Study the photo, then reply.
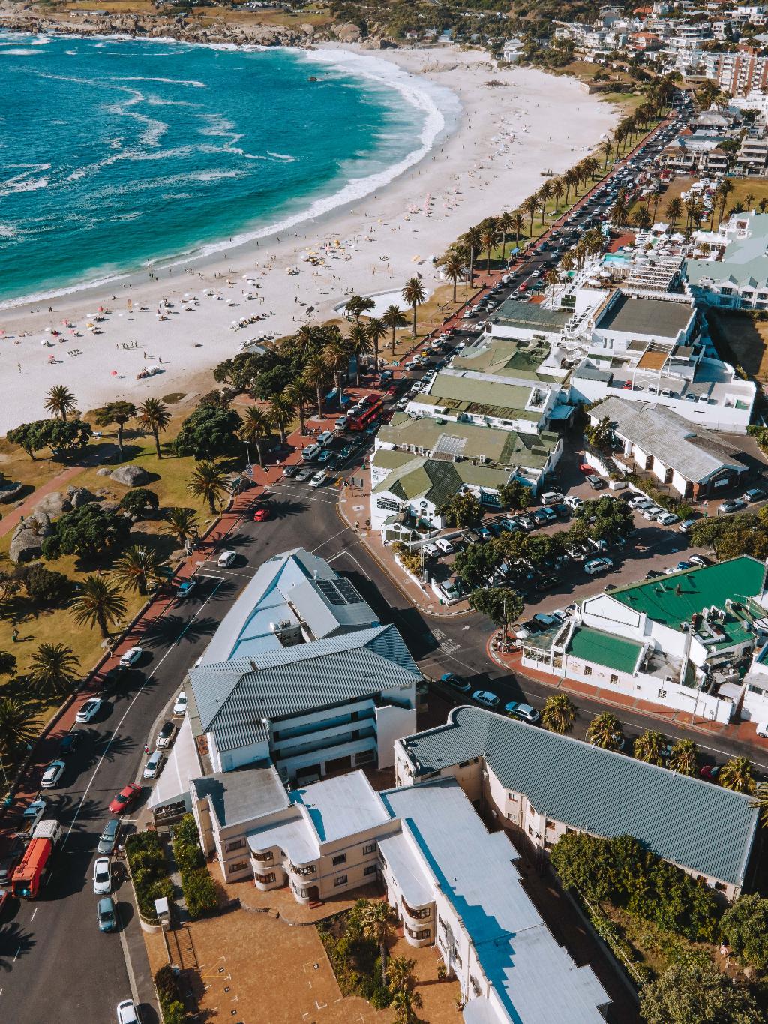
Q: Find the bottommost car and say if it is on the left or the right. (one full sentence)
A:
The bottommost car appears in the left half of the scene.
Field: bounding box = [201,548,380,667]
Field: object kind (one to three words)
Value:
building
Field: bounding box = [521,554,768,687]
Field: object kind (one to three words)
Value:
building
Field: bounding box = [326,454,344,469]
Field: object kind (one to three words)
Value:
car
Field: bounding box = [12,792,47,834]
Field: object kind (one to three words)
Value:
truck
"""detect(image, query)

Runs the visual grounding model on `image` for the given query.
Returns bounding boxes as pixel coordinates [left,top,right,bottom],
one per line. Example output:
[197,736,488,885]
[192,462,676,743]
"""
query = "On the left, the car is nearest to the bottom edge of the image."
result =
[113,986,143,1024]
